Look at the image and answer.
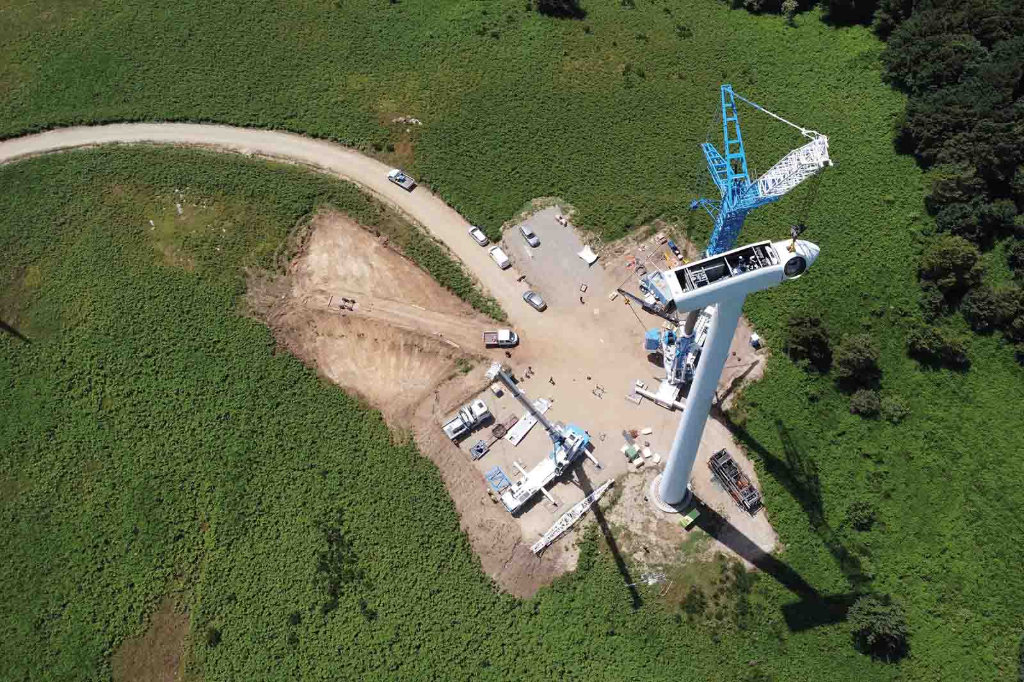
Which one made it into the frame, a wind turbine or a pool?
wind turbine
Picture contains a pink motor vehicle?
No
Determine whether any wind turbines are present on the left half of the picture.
No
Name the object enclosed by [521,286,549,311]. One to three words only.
car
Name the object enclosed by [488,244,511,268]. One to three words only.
vehicle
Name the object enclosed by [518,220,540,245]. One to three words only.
car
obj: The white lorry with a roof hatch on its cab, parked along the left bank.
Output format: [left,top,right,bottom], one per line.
[442,396,494,445]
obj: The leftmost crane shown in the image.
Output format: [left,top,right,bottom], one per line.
[479,361,597,511]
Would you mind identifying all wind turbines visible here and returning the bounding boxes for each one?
[657,237,823,506]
